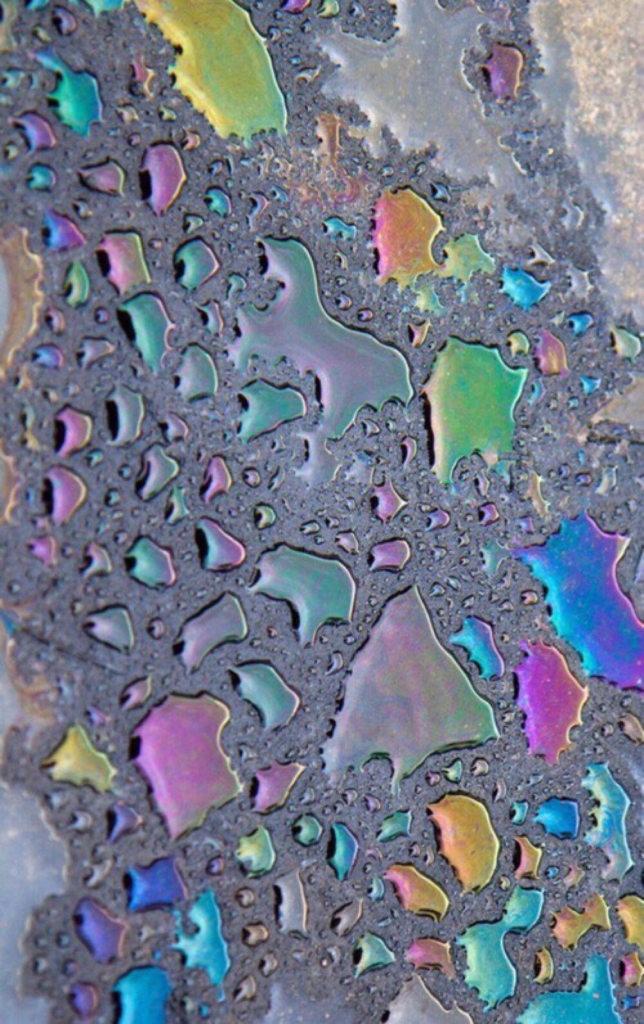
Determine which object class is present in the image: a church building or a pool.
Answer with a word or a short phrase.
pool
